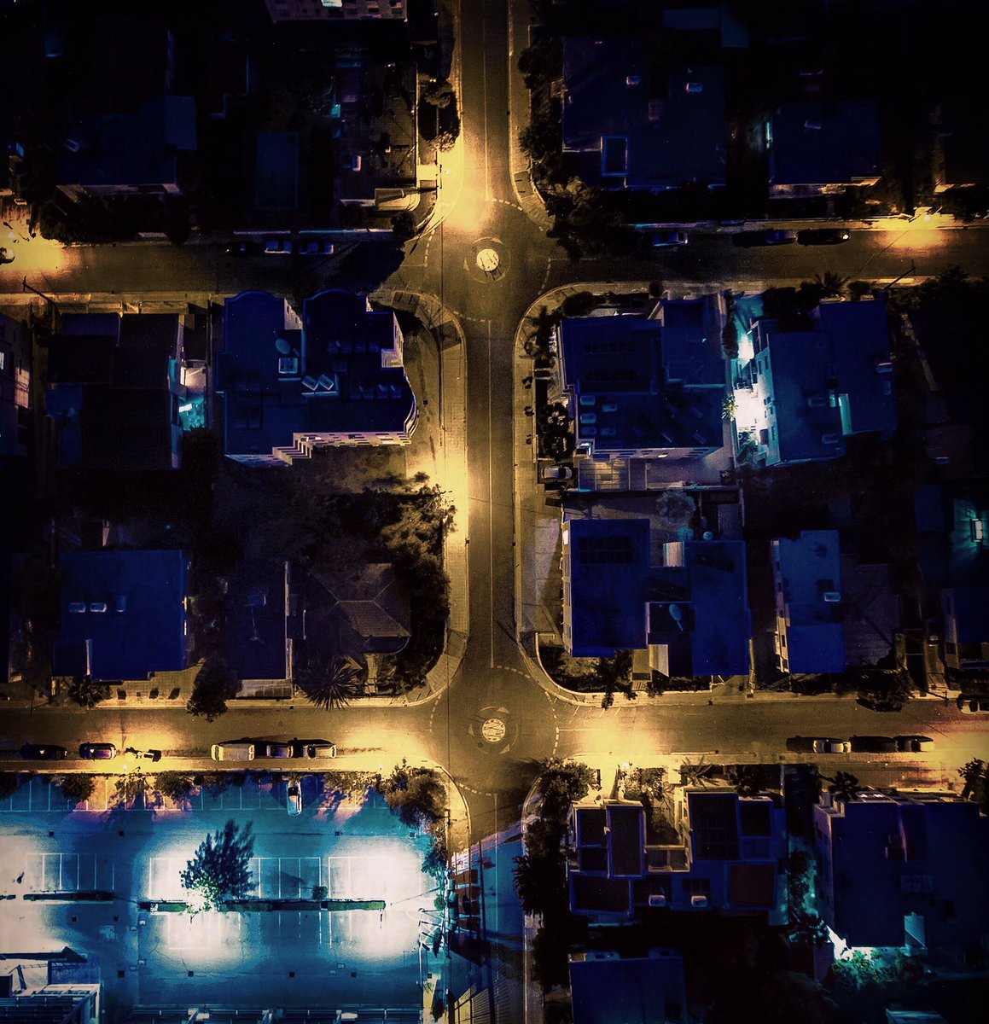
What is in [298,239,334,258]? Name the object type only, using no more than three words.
car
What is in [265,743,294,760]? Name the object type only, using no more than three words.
car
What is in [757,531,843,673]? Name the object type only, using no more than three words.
house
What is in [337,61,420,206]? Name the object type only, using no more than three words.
house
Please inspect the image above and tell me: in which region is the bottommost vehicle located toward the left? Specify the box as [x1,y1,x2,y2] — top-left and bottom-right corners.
[285,780,303,816]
